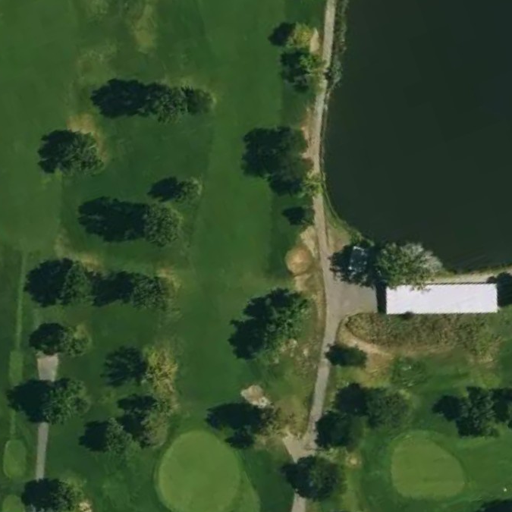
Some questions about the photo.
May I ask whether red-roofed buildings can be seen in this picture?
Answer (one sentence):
No, there's no red-roofed building here.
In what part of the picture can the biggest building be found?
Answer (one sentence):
You can find the biggest building in the right area of the picture.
